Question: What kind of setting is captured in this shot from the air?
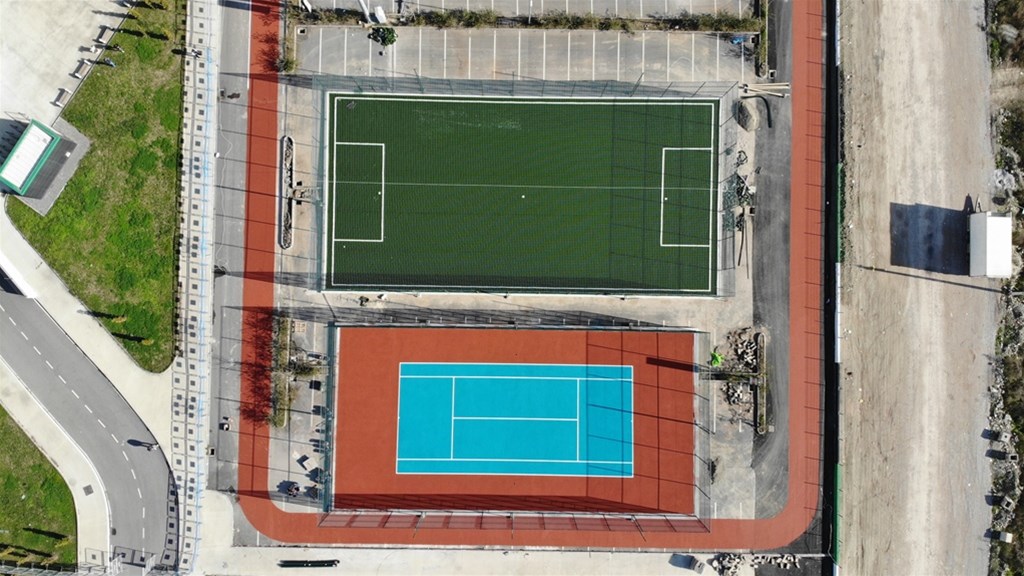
sports ground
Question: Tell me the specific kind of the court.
tennis court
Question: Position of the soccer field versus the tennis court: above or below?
above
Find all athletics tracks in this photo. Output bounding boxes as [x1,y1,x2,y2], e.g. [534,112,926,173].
[237,0,822,550]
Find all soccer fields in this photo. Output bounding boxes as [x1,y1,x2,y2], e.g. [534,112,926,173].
[322,90,721,298]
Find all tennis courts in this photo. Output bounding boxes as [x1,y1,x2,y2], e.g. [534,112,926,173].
[331,322,701,519]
